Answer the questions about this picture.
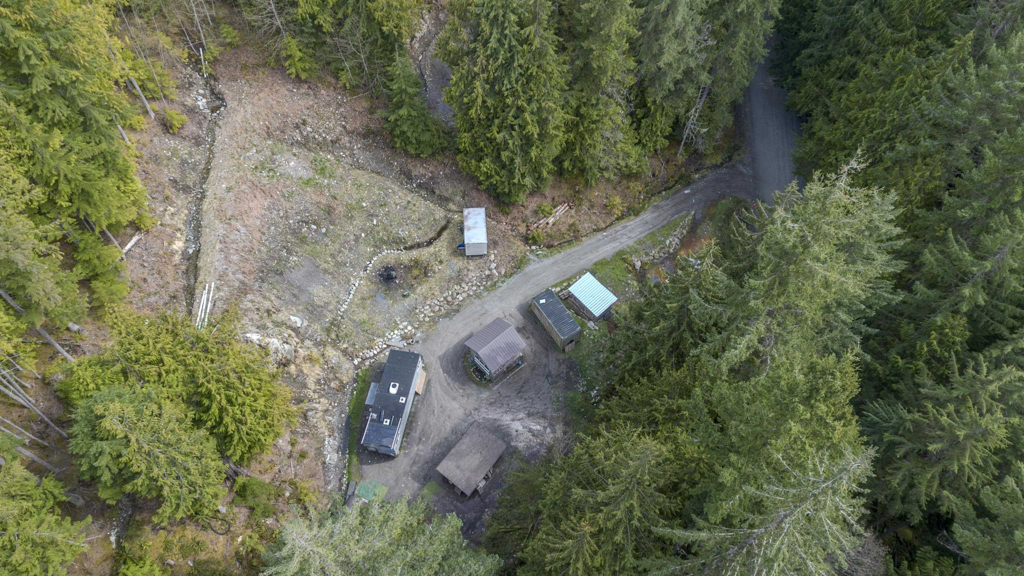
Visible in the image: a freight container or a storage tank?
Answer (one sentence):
There is a freight container in the scene.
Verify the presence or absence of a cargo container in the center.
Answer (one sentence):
Yes, there is a cargo container in the center.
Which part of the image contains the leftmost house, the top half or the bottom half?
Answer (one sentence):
The leftmost house is in the bottom half of the image.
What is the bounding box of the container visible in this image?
[533,291,580,347]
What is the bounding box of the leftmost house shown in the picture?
[360,350,422,456]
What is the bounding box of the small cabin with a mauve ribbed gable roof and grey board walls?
[466,318,527,378]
